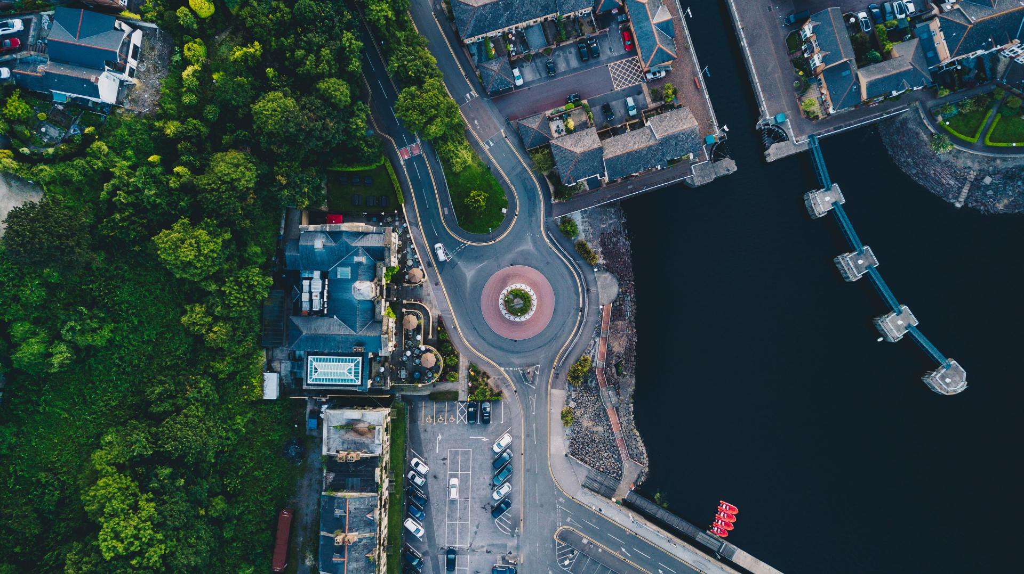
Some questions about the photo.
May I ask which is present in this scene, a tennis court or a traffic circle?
traffic circle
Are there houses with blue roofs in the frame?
Yes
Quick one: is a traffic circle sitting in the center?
Yes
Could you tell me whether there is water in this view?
Yes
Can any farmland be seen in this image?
No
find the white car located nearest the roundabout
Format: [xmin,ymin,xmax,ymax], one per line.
[434,241,447,263]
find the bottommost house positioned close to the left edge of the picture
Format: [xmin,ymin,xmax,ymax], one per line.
[13,60,115,103]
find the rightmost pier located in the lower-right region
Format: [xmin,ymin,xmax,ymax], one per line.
[719,535,787,574]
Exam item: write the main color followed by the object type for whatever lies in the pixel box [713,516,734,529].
red boat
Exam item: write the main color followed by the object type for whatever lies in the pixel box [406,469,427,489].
white car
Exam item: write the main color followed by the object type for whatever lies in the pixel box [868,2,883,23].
blue car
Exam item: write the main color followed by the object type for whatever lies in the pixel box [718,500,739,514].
red boat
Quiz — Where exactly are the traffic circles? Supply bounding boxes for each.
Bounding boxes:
[480,265,555,340]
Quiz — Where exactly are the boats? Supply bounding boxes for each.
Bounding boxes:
[716,508,736,521]
[718,500,739,514]
[710,524,729,536]
[713,516,734,529]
